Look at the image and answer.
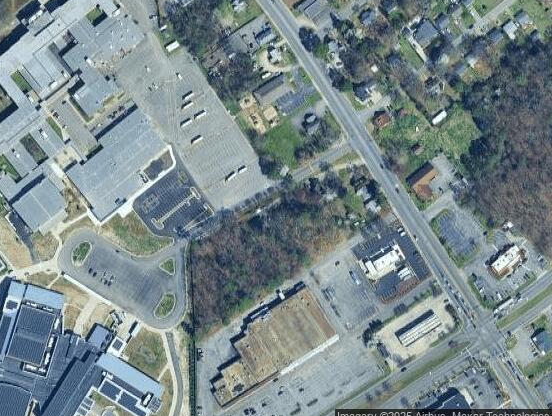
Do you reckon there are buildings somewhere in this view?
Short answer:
Yes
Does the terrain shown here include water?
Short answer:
No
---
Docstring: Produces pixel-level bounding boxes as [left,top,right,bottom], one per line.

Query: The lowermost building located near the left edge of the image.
[0,280,165,416]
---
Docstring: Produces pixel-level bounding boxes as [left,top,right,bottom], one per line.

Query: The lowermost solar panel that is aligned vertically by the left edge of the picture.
[0,315,13,353]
